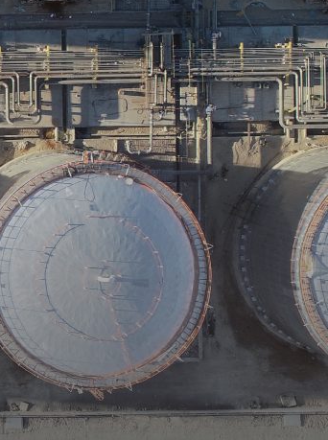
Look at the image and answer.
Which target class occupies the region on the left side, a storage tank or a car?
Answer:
storage tank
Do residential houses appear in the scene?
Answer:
No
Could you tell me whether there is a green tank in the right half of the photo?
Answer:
No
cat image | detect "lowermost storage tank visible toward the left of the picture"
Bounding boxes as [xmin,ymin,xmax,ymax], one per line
[0,149,209,387]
